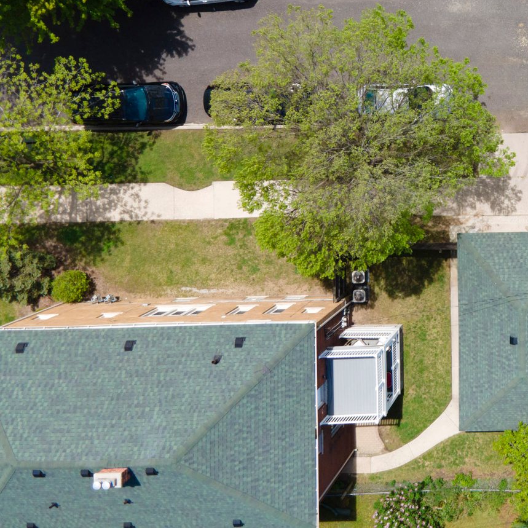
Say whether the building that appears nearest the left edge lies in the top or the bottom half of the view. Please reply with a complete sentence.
The bottom half of the photo is where the building that appears nearest the left edge is.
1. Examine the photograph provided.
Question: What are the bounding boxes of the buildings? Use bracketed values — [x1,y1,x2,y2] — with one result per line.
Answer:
[0,297,353,528]
[457,229,528,433]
